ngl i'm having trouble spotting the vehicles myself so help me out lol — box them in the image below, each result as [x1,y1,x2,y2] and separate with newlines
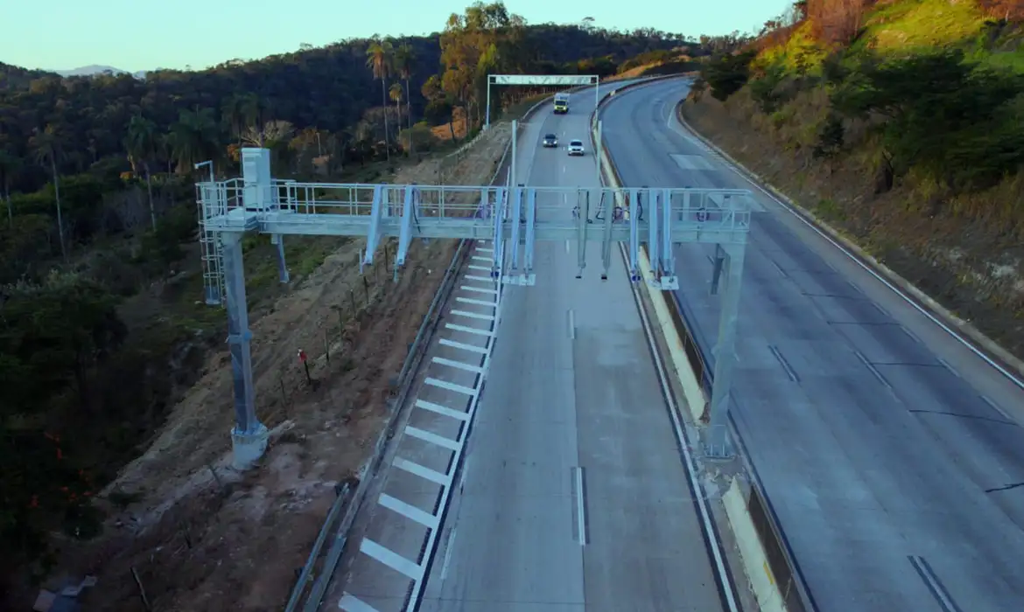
[554,91,571,112]
[542,135,558,148]
[568,141,586,156]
